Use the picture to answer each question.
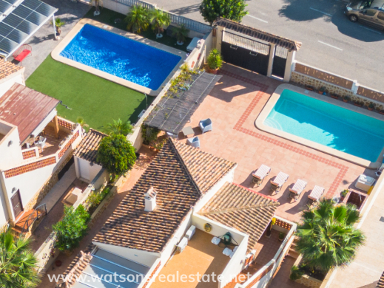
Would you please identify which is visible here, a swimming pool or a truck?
swimming pool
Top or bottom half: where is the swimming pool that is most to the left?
top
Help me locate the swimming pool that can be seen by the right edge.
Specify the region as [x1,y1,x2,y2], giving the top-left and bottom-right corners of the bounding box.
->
[254,82,384,171]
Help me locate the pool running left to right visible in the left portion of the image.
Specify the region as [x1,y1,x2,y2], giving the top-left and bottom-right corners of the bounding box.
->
[49,18,183,94]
